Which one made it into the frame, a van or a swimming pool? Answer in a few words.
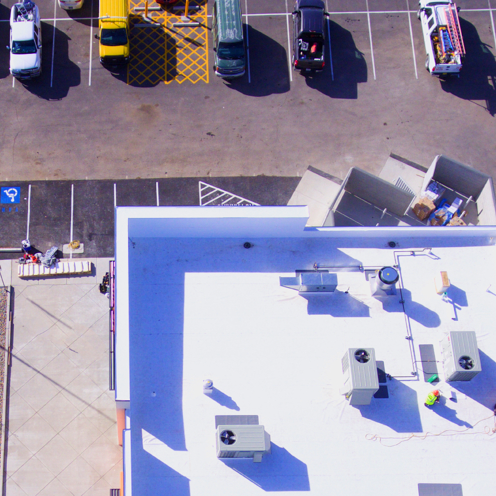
van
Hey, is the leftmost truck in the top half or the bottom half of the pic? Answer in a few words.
top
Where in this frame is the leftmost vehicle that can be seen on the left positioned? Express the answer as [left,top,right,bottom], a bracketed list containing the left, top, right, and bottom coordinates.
[5,2,43,77]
